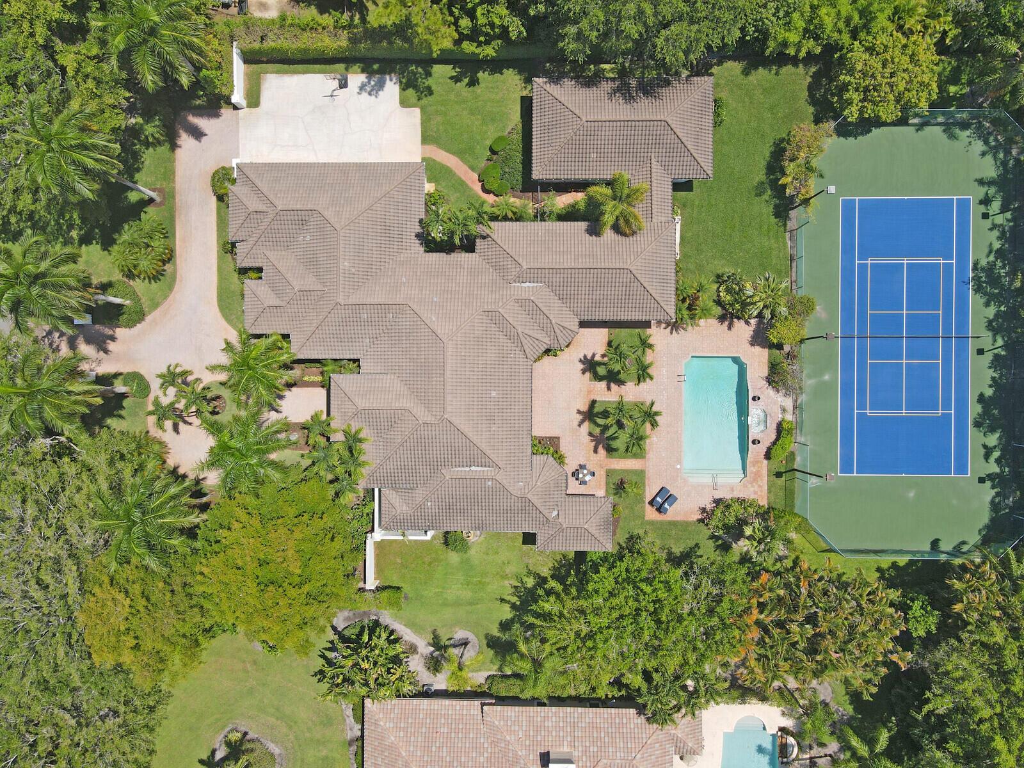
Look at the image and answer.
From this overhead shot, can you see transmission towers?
No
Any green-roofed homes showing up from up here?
No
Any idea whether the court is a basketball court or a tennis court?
tennis court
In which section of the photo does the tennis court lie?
right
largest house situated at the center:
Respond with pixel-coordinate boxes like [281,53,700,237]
[227,161,677,551]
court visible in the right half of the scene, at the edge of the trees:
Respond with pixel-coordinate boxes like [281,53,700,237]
[796,126,1015,550]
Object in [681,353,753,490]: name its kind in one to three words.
swimming pool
